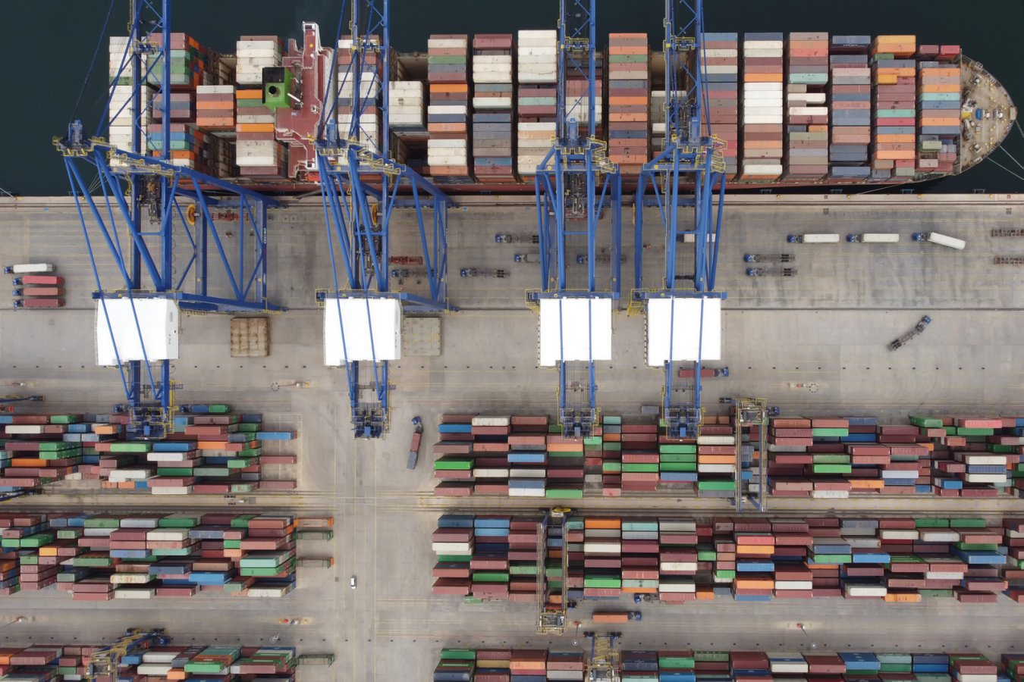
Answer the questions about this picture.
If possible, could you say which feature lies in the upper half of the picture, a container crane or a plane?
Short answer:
container crane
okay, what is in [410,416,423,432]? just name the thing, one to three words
vehicle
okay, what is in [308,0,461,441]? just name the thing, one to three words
container crane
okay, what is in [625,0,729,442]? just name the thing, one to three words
container crane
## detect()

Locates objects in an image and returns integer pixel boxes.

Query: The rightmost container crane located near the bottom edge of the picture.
[584,631,626,682]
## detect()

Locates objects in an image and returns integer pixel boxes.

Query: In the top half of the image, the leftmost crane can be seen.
[57,0,286,441]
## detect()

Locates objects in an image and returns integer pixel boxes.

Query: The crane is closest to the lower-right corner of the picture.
[718,398,769,515]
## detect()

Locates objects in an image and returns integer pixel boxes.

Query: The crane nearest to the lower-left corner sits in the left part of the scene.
[83,628,166,682]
